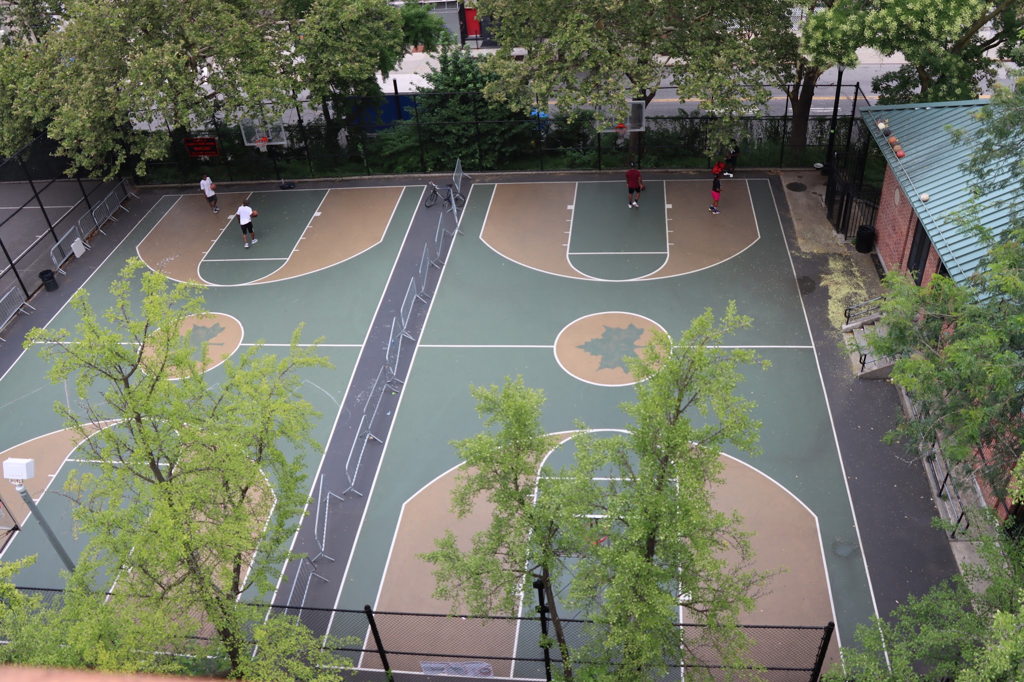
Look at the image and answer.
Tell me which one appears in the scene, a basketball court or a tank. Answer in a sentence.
The one in the frame is a basketball court.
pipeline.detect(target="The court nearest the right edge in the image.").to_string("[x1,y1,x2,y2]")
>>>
[332,179,885,682]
